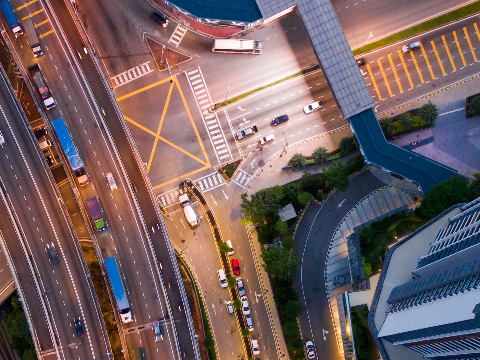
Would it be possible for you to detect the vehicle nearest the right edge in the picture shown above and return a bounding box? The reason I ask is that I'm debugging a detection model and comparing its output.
[402,39,423,53]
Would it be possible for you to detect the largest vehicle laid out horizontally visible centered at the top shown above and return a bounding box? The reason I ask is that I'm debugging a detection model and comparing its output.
[212,39,262,56]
